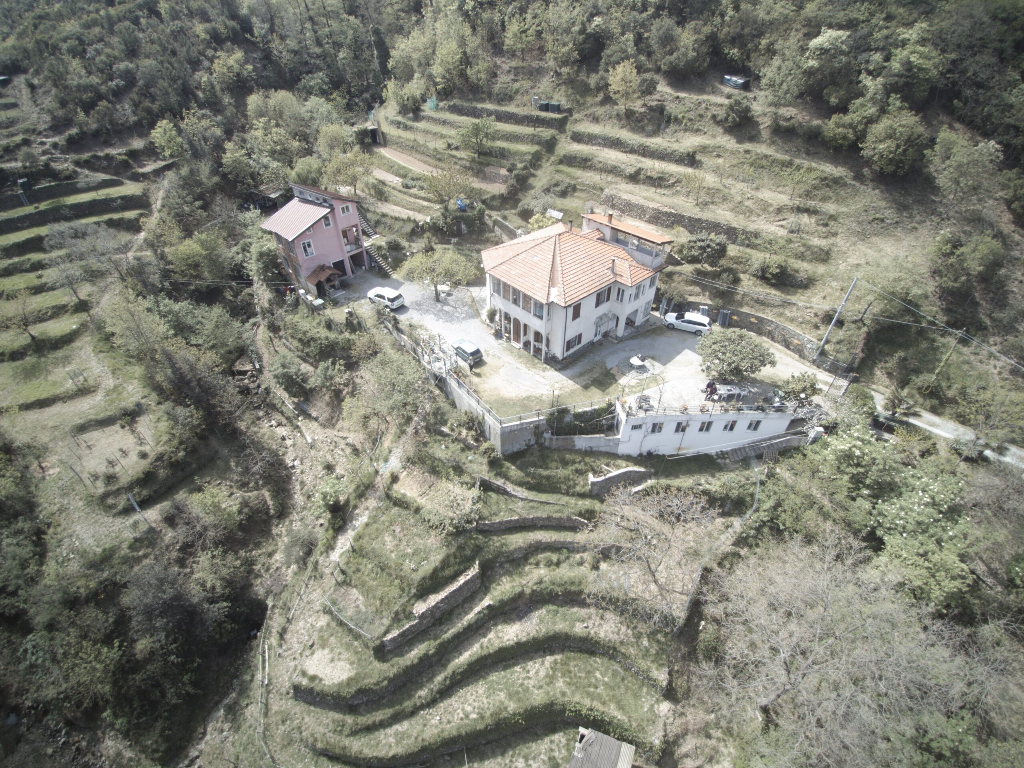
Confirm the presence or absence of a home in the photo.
Yes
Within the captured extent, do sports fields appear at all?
No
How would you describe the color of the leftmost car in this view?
white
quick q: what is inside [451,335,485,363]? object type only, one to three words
car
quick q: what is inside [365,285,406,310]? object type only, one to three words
car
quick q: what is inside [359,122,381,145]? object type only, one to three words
shed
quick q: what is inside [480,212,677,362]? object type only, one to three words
house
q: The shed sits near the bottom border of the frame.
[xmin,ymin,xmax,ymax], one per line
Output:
[567,728,636,768]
